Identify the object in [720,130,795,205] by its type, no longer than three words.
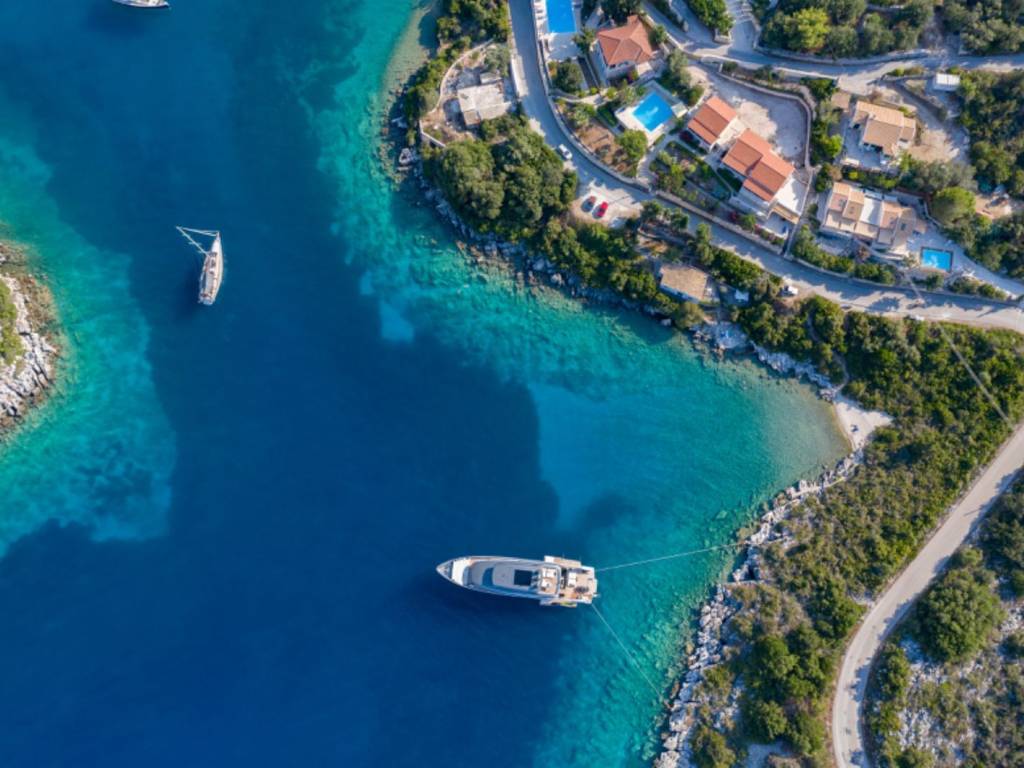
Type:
house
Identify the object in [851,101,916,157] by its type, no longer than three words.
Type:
house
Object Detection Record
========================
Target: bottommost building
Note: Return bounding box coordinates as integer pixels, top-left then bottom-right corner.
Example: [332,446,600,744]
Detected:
[660,266,707,301]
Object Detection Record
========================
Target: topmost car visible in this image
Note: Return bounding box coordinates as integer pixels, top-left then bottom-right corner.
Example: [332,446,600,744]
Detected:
[558,144,572,161]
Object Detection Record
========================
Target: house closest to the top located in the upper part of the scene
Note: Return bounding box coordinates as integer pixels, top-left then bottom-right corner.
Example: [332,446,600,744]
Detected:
[597,16,653,81]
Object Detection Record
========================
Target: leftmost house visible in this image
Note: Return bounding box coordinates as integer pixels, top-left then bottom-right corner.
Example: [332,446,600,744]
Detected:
[458,73,511,128]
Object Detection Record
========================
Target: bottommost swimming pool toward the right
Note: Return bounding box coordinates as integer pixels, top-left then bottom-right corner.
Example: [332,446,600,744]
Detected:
[915,244,957,278]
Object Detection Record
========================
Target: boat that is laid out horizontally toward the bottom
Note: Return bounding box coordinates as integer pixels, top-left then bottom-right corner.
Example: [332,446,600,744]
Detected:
[436,555,598,607]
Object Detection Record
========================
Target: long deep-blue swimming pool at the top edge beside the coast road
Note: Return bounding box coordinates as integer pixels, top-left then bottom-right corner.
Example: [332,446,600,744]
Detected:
[536,0,583,63]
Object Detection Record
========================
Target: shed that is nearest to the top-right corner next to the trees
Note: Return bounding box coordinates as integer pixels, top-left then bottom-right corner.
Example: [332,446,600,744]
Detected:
[931,73,960,92]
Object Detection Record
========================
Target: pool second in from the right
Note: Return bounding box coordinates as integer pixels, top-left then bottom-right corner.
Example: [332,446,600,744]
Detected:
[614,80,687,149]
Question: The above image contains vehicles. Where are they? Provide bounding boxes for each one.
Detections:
[909,312,924,322]
[782,285,800,296]
[586,194,597,211]
[597,202,608,219]
[558,144,572,161]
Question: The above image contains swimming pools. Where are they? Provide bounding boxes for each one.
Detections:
[915,244,957,278]
[614,80,687,149]
[536,0,583,63]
